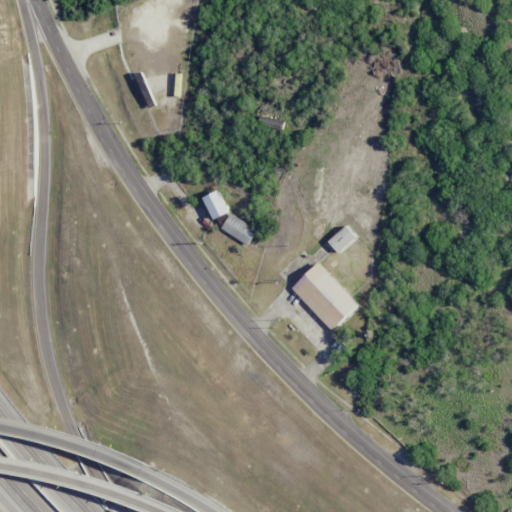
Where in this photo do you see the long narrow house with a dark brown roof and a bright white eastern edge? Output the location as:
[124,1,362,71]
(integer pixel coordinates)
[134,71,158,108]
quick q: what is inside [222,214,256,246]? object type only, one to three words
house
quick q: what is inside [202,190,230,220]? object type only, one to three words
house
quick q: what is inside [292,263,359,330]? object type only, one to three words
building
